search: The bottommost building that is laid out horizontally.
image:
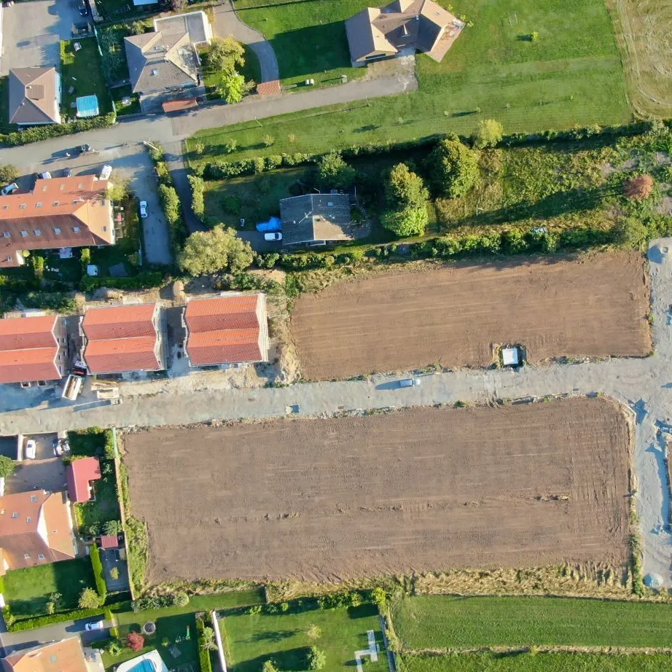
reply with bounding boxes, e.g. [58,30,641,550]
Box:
[2,634,96,672]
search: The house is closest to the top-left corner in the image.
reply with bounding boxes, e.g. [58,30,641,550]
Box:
[10,68,62,126]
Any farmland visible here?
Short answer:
Yes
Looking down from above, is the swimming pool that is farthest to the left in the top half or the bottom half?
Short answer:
top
